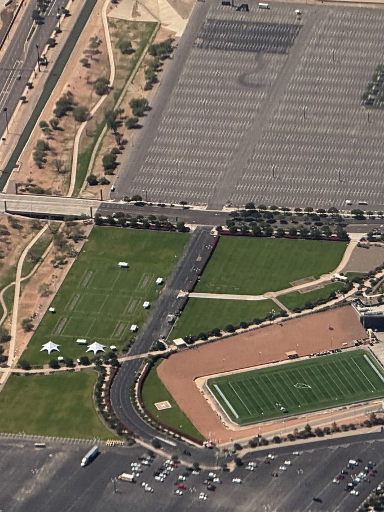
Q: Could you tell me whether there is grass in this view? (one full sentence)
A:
Yes, there is grass in the image.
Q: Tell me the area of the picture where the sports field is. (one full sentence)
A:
The sports field sits in the bottom right section of the image.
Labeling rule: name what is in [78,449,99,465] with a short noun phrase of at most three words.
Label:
vehicle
